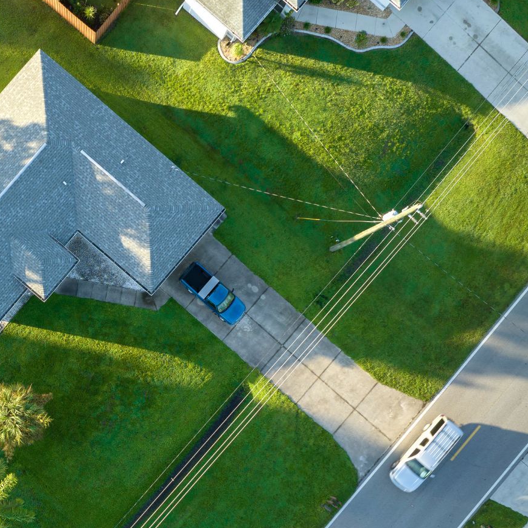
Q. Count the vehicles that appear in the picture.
2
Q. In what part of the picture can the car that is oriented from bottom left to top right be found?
bottom right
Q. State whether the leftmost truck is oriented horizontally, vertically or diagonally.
diagonally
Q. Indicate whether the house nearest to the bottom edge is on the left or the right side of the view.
left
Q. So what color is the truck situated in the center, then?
blue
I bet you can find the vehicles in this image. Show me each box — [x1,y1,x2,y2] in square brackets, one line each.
[390,415,464,489]
[177,260,245,325]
